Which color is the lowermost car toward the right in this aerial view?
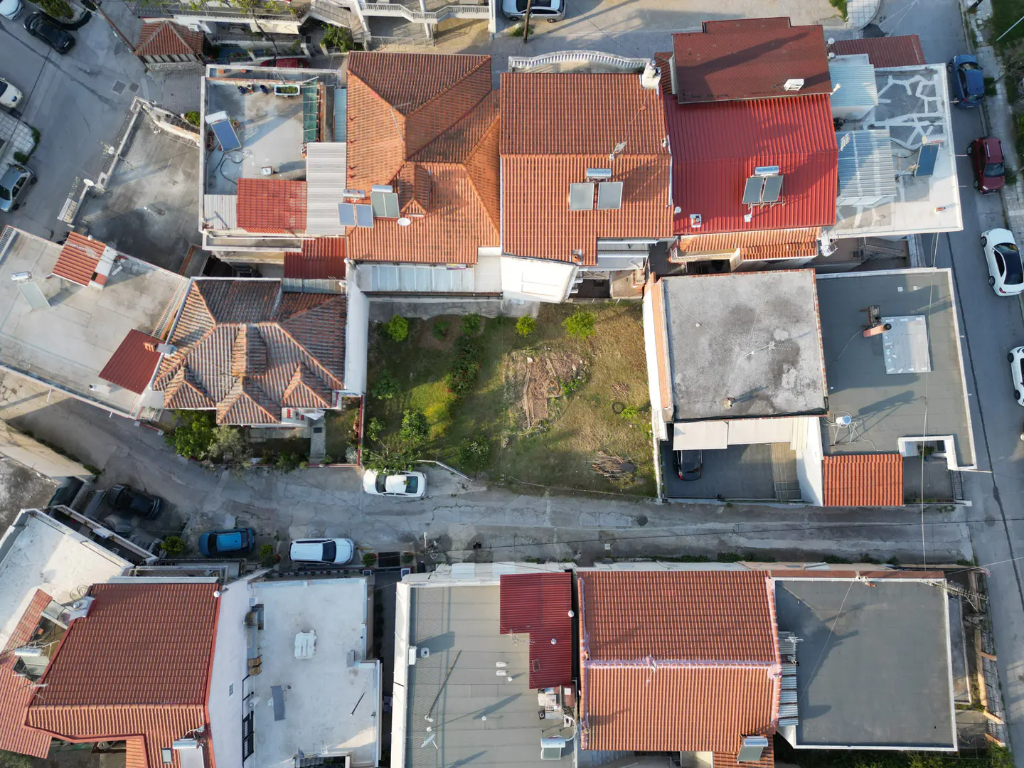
black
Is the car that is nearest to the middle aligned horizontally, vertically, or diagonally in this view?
horizontally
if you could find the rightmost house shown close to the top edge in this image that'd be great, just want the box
[809,34,970,269]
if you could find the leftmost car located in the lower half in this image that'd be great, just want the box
[103,481,168,522]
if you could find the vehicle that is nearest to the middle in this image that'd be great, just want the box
[361,468,428,499]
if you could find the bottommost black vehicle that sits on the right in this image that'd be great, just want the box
[673,450,700,485]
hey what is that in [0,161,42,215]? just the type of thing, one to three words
car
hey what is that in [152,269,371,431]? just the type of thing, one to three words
house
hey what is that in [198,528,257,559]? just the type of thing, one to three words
car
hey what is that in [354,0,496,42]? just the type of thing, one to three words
house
